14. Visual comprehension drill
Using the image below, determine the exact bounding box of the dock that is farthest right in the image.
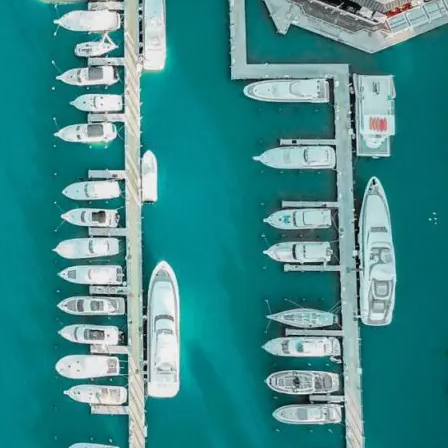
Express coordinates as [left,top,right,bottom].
[229,0,364,448]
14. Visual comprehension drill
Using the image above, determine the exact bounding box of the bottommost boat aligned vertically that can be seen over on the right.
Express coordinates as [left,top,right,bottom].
[357,176,397,326]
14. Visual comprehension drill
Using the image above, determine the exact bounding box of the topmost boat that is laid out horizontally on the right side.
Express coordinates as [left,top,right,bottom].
[244,78,336,104]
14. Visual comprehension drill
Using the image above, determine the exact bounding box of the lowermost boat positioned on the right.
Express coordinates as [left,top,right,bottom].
[273,402,350,427]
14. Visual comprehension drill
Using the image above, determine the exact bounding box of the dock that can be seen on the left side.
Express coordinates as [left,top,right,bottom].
[88,0,145,448]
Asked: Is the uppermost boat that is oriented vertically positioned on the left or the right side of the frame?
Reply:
left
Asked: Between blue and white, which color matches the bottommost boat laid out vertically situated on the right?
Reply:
white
